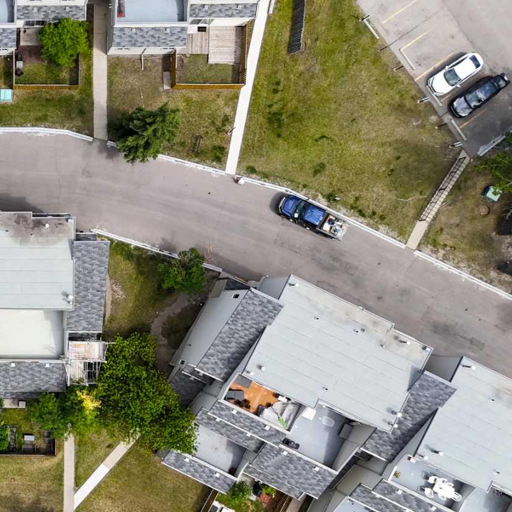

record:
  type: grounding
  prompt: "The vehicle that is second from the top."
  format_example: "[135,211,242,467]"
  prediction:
[447,74,510,122]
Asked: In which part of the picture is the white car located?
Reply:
top right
